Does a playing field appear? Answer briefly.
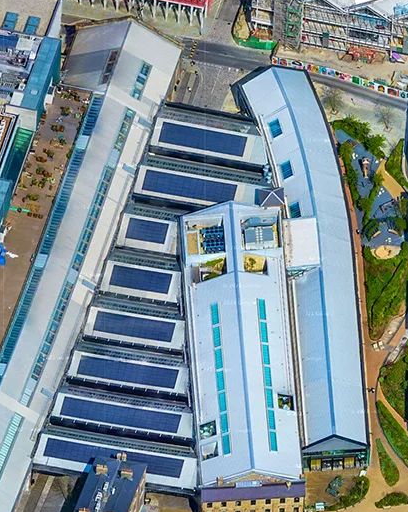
Yes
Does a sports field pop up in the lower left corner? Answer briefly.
Yes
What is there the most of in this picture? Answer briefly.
buildings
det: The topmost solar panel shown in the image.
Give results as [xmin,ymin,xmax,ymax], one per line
[159,121,247,156]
